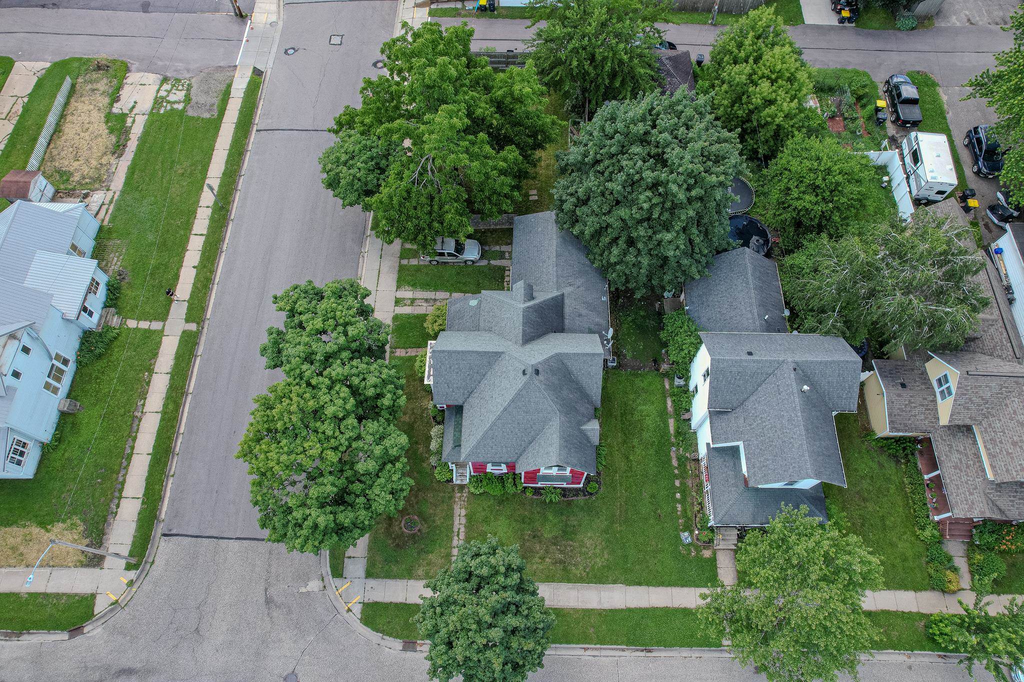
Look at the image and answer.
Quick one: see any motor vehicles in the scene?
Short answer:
Yes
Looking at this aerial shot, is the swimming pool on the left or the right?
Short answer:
right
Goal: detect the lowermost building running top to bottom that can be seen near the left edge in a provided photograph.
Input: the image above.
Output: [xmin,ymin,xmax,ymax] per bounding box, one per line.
[0,193,128,480]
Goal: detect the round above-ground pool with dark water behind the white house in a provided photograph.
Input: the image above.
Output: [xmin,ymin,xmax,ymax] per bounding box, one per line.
[714,211,773,257]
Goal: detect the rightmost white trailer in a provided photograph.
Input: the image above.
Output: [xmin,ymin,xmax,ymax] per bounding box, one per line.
[899,130,959,204]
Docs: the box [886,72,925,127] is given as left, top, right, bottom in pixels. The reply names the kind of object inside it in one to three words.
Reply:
truck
